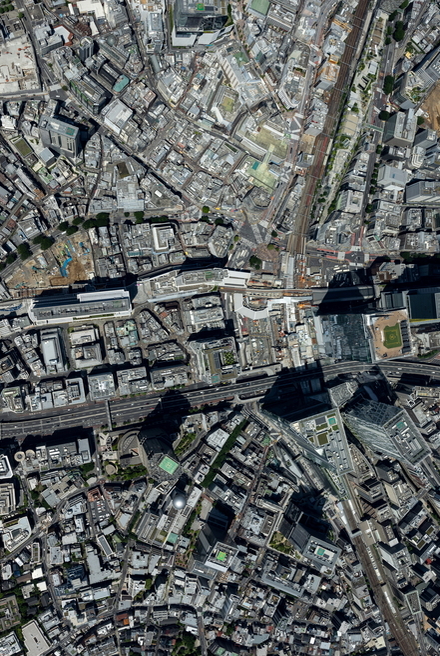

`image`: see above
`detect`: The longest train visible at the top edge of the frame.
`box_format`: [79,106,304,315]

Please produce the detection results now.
[334,19,357,99]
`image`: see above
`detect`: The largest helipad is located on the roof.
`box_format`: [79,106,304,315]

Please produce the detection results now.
[159,456,178,473]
